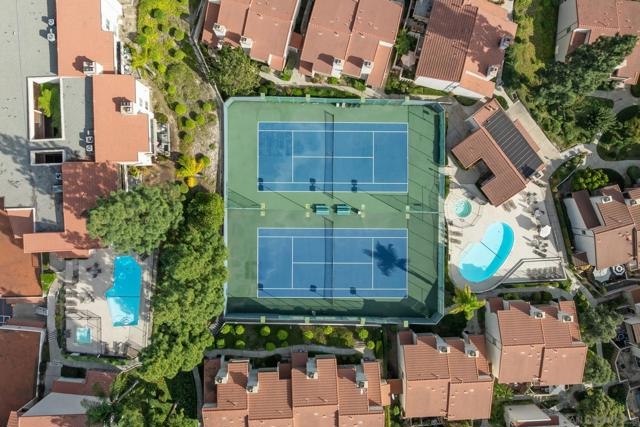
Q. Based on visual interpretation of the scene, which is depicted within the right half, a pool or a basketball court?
pool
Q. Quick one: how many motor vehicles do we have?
zero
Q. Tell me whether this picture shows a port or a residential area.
residential area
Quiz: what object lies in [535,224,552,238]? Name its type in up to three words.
umbrella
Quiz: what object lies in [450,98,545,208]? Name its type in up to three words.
building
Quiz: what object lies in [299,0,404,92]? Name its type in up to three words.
house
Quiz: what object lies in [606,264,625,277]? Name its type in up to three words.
umbrella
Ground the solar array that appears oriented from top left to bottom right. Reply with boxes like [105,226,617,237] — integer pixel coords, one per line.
[484,110,544,181]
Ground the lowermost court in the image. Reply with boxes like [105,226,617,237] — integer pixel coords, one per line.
[229,209,438,317]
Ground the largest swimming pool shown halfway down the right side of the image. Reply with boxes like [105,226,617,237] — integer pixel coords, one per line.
[458,220,517,284]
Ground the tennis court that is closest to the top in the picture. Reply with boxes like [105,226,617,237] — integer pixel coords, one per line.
[229,102,438,209]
